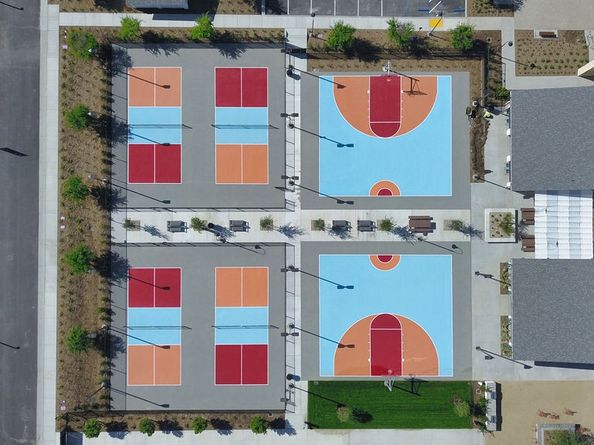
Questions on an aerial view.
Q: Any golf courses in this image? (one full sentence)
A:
No, the photo shows no golf course.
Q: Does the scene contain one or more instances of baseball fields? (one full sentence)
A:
No, no baseball field is visible in the view.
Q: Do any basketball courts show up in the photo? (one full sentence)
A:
Yes, a basketball court can be made out from above.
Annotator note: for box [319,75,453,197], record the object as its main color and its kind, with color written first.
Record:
blue basketball court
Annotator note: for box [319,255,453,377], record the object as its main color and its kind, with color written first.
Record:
blue basketball court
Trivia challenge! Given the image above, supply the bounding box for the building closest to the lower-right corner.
[506,259,594,364]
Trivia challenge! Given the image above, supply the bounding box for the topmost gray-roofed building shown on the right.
[506,85,594,190]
